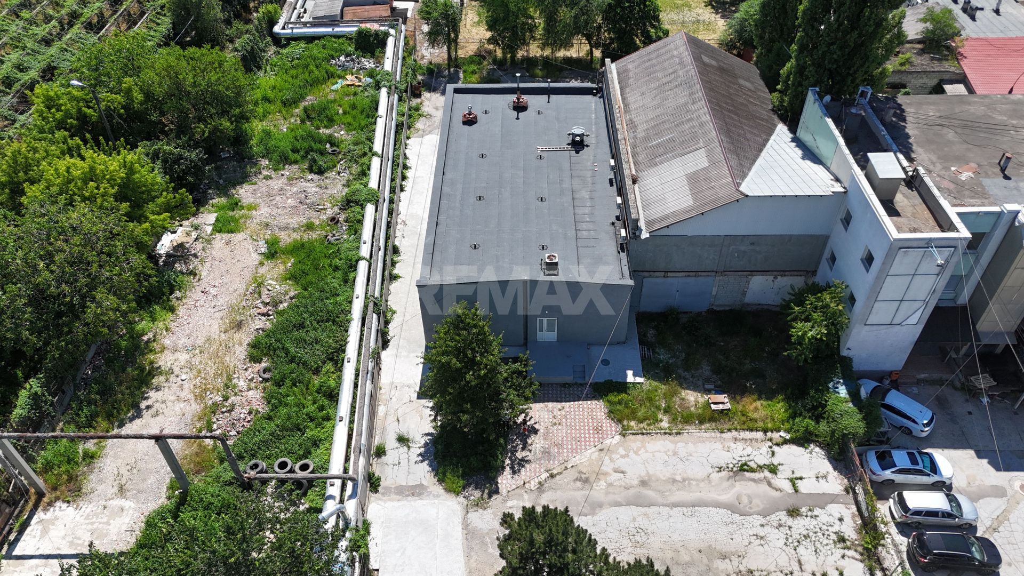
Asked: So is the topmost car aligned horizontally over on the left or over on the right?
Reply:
right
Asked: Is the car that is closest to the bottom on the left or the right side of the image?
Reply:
right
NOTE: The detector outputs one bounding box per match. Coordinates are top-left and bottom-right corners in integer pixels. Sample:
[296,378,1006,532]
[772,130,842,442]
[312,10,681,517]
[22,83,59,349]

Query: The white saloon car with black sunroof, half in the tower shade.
[864,447,956,487]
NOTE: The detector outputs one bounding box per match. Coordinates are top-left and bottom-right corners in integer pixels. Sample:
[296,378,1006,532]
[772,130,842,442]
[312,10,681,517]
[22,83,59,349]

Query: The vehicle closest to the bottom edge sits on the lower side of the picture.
[905,529,1003,575]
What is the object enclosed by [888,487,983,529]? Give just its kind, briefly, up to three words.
car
